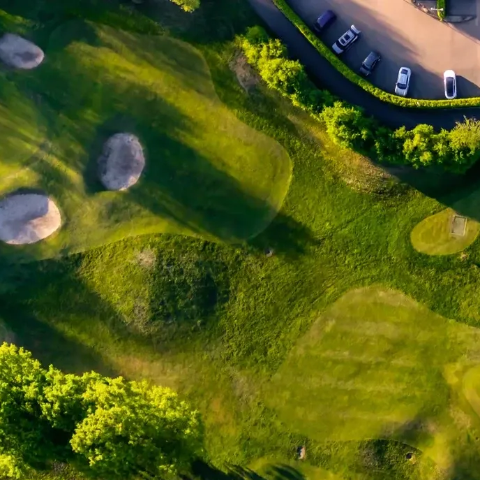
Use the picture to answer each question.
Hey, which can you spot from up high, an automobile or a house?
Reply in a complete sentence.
This aerial view contains an automobile.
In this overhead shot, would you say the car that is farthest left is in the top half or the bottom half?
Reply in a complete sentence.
The top half of the photo is where the car that is farthest left is.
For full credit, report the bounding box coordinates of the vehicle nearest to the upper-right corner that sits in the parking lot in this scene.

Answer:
[444,71,457,100]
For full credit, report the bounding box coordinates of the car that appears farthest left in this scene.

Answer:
[313,8,337,35]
